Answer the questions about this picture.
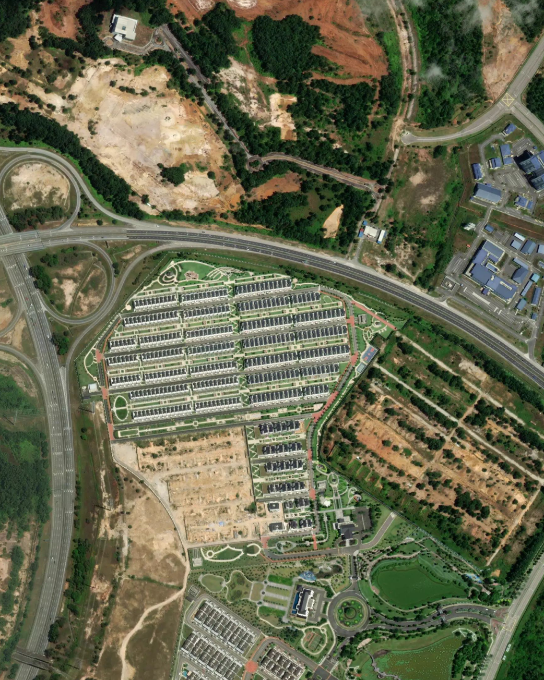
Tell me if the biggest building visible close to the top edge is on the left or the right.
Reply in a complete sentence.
The biggest building visible close to the top edge appears in the left half of the scene.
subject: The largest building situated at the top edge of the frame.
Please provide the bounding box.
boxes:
[113,15,139,38]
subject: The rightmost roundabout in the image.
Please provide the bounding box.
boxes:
[328,591,372,635]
